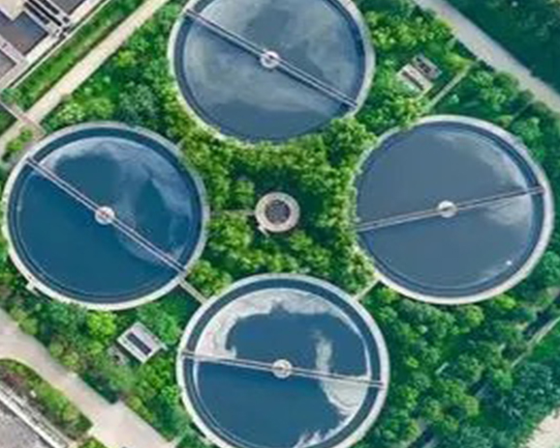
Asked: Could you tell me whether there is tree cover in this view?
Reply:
Yes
